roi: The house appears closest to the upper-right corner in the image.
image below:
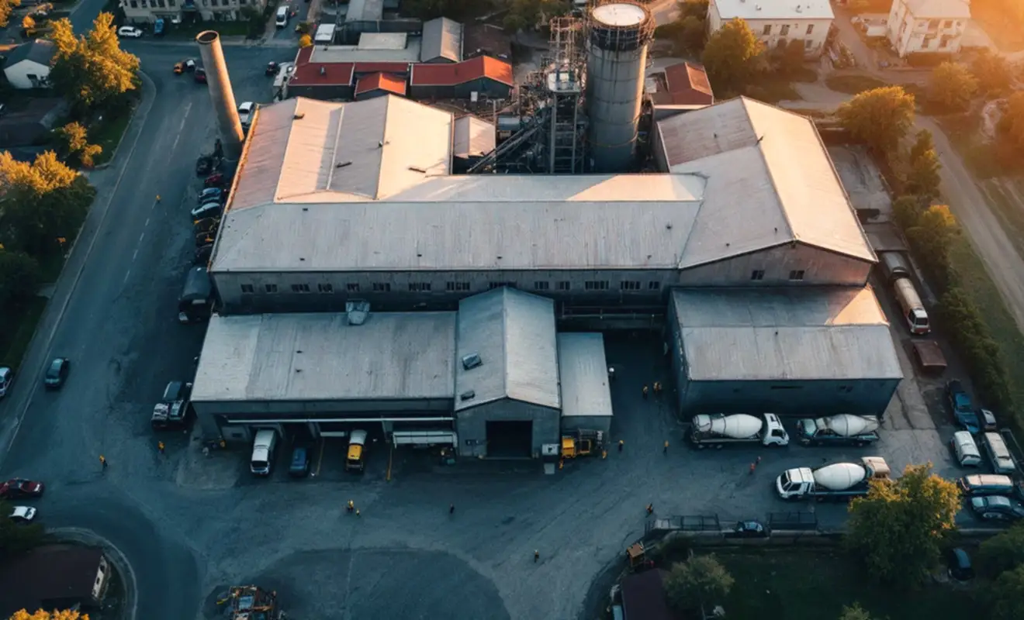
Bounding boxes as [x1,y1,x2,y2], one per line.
[884,0,979,55]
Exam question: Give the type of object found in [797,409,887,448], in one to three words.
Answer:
truck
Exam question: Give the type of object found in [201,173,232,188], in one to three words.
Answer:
car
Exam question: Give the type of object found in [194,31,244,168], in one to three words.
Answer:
chimney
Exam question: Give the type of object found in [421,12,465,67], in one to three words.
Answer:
shed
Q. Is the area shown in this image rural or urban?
urban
